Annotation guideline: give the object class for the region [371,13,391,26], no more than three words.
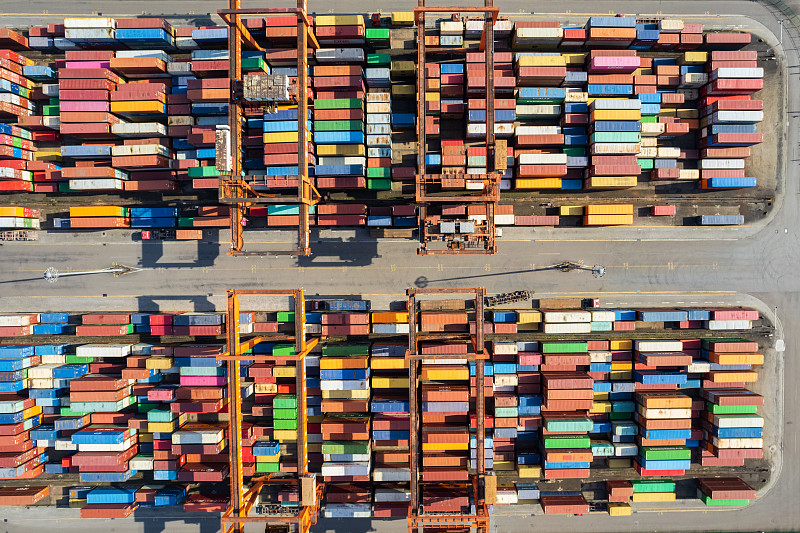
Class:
vehicle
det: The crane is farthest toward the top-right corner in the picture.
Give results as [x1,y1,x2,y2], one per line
[412,0,508,256]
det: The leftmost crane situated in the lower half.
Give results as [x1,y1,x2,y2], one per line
[211,290,326,533]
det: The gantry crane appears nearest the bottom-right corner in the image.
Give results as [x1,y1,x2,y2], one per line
[405,289,499,533]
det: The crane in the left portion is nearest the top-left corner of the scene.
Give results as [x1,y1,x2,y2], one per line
[209,0,327,256]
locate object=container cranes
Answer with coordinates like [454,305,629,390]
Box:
[211,290,326,533]
[405,289,499,533]
[412,0,508,256]
[209,0,327,256]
